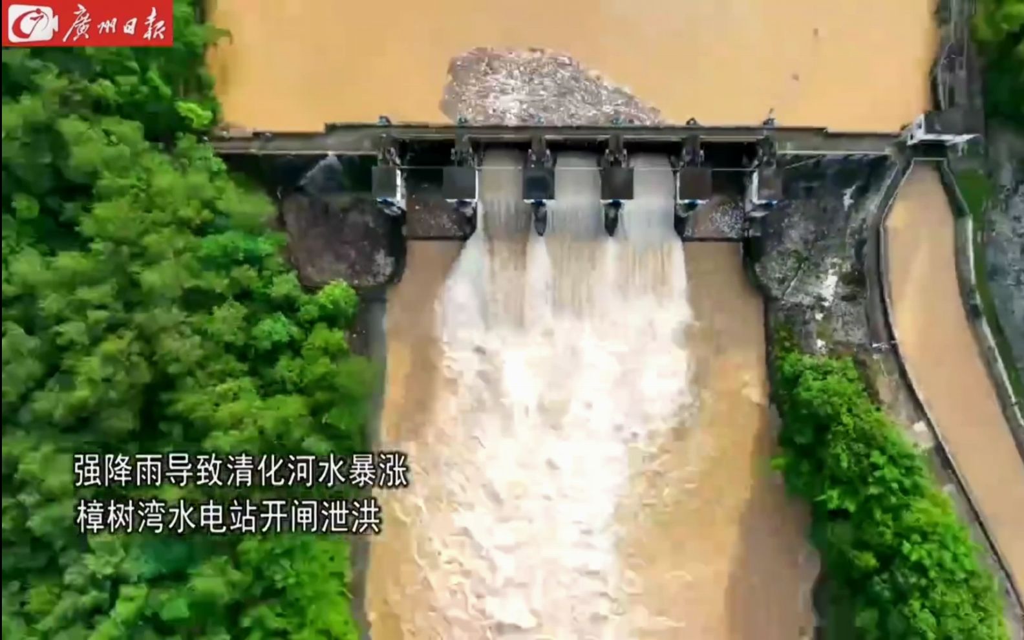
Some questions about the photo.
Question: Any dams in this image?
Yes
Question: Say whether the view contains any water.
Yes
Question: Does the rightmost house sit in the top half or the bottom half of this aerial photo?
top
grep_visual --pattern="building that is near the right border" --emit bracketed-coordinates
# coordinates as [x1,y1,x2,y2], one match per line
[893,111,984,156]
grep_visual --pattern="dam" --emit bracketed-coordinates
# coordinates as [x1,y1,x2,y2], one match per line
[207,122,908,288]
